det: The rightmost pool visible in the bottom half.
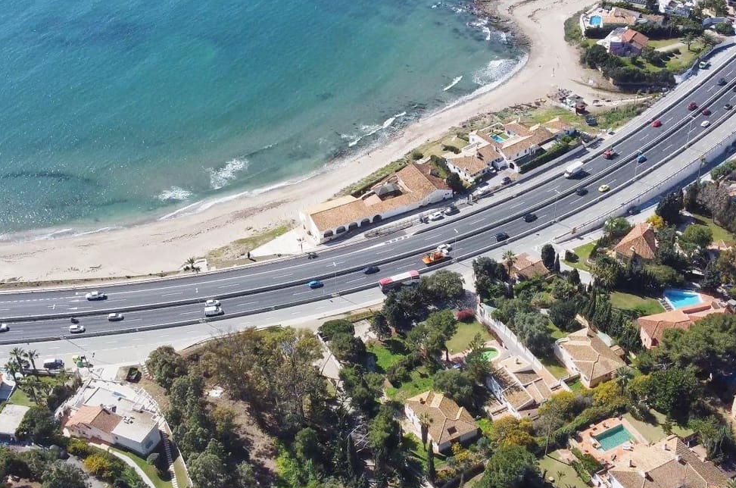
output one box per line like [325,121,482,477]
[660,288,704,313]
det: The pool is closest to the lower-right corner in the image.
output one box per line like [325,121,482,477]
[592,422,639,454]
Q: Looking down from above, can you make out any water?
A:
Yes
